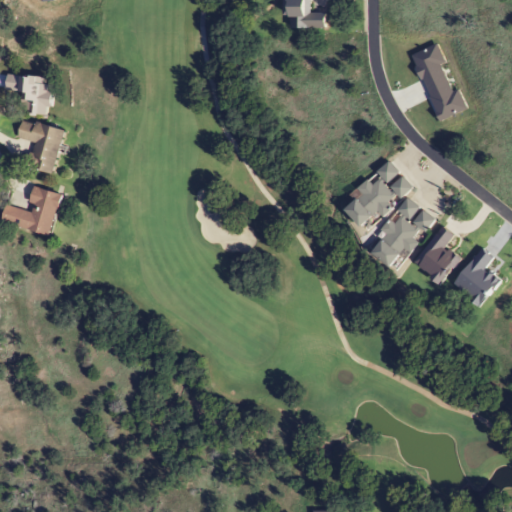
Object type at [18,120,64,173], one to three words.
house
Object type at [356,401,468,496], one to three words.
pond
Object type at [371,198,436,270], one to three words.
house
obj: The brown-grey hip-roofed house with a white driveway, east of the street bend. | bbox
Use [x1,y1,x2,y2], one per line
[410,44,468,119]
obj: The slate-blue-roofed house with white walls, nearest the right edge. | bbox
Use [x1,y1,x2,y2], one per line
[455,249,504,304]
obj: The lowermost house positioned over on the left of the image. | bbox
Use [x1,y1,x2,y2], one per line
[2,186,62,234]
